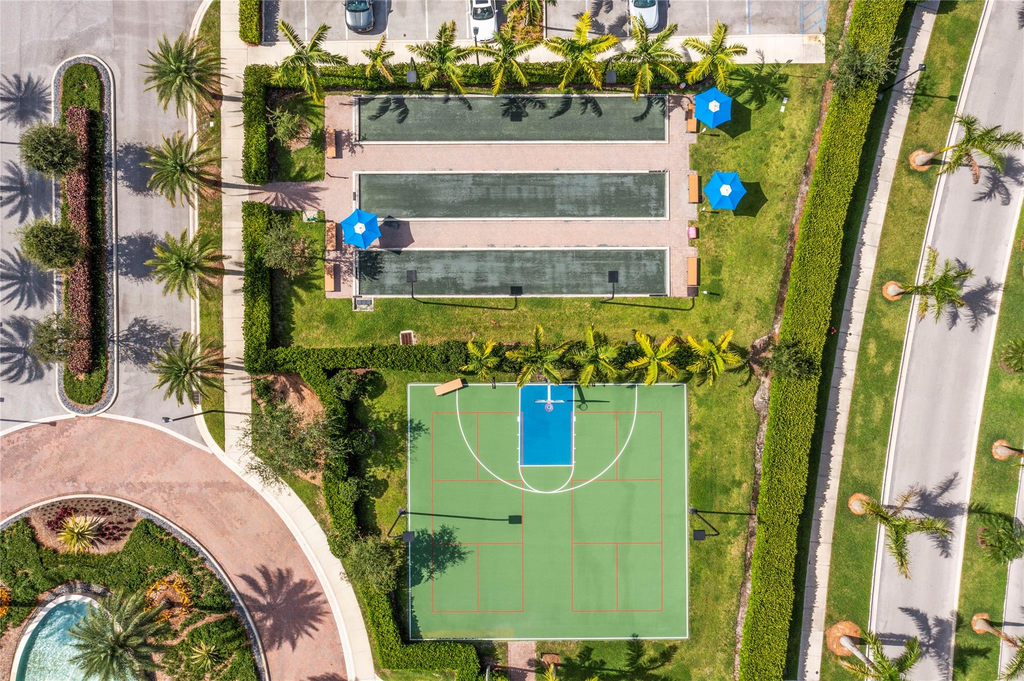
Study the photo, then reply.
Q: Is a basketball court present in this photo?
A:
Yes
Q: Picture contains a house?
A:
No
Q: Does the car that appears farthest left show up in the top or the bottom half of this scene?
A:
top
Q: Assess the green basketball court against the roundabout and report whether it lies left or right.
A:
on the right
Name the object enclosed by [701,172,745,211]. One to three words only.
umbrella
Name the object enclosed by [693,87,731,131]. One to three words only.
umbrella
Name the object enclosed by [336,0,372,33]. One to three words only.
car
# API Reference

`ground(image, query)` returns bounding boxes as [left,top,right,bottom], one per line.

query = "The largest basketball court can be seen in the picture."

[407,382,691,643]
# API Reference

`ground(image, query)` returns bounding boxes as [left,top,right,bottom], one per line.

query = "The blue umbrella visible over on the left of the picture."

[341,208,382,251]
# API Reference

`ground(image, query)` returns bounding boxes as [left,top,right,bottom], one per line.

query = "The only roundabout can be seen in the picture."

[0,413,347,681]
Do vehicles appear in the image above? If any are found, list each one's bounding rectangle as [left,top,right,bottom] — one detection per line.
[629,0,664,32]
[336,0,372,33]
[466,0,501,45]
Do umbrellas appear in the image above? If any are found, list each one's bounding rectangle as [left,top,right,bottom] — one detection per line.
[693,87,731,131]
[341,208,382,251]
[701,172,745,211]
